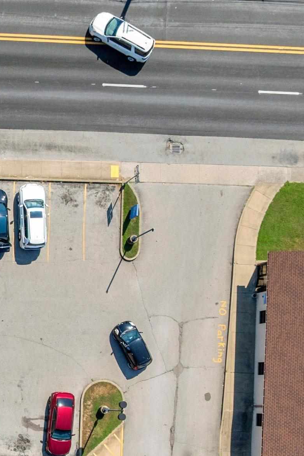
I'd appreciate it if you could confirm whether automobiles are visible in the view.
Yes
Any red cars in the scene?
Yes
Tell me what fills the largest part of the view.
paved ground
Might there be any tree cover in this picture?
No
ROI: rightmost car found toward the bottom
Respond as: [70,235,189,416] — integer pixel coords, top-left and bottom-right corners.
[113,318,154,373]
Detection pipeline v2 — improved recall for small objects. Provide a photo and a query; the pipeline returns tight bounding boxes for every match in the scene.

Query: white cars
[19,184,51,250]
[88,13,158,65]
